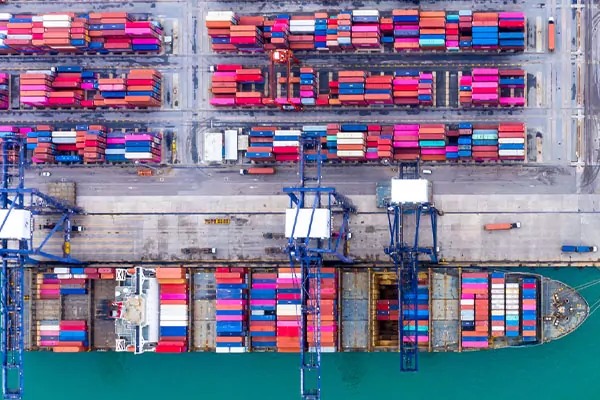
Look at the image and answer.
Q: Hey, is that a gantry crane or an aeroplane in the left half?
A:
gantry crane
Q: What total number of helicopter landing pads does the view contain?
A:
0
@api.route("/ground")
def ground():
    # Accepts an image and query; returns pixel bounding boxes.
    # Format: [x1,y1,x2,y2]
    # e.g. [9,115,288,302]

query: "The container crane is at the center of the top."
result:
[269,45,304,114]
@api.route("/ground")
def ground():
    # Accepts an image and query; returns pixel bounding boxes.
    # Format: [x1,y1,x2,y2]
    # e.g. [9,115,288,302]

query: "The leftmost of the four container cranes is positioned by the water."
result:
[0,138,84,400]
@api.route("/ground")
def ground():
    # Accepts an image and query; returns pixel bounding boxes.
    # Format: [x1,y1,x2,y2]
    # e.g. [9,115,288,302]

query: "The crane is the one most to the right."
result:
[384,162,444,374]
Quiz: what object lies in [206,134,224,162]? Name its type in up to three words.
shed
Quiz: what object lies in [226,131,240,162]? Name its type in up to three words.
shed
